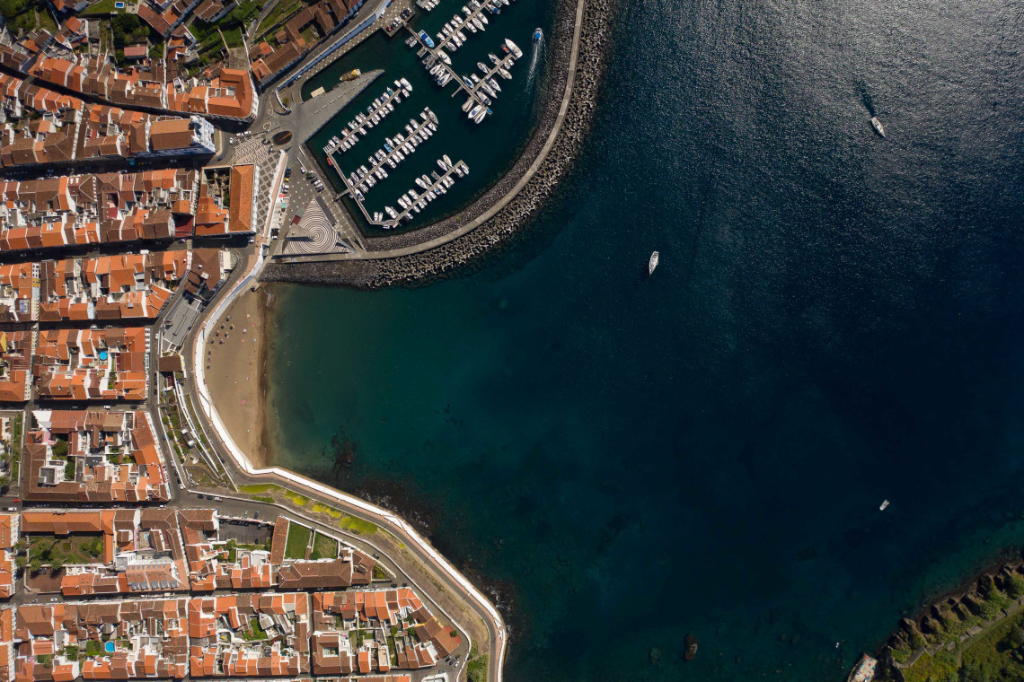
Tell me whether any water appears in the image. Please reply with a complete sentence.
Yes, there is water in the image.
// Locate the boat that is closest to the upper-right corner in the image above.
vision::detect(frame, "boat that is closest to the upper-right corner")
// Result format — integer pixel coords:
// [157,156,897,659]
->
[870,116,887,135]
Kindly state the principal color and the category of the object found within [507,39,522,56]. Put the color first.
white boat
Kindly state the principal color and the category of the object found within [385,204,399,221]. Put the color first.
white boat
